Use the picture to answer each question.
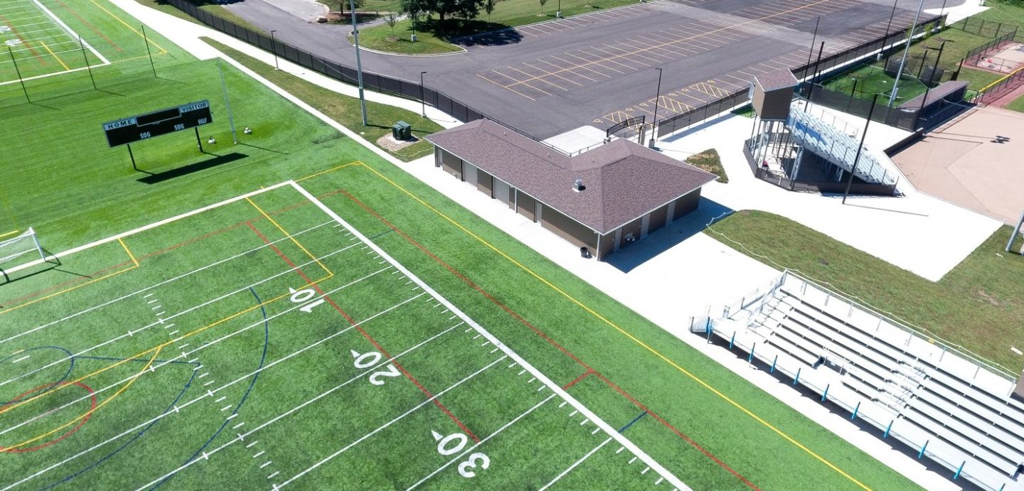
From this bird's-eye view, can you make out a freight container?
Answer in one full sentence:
No, no freight container is visible in the scene.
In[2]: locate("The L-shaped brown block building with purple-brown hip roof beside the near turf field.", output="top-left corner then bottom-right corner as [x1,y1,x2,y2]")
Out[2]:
[424,118,719,262]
